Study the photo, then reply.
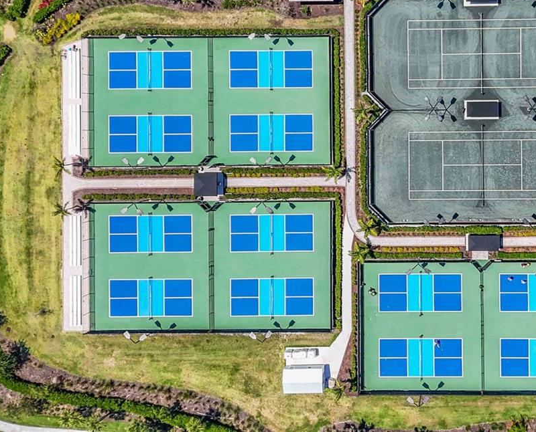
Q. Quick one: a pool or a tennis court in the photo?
tennis court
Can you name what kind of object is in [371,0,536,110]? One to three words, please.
tennis court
